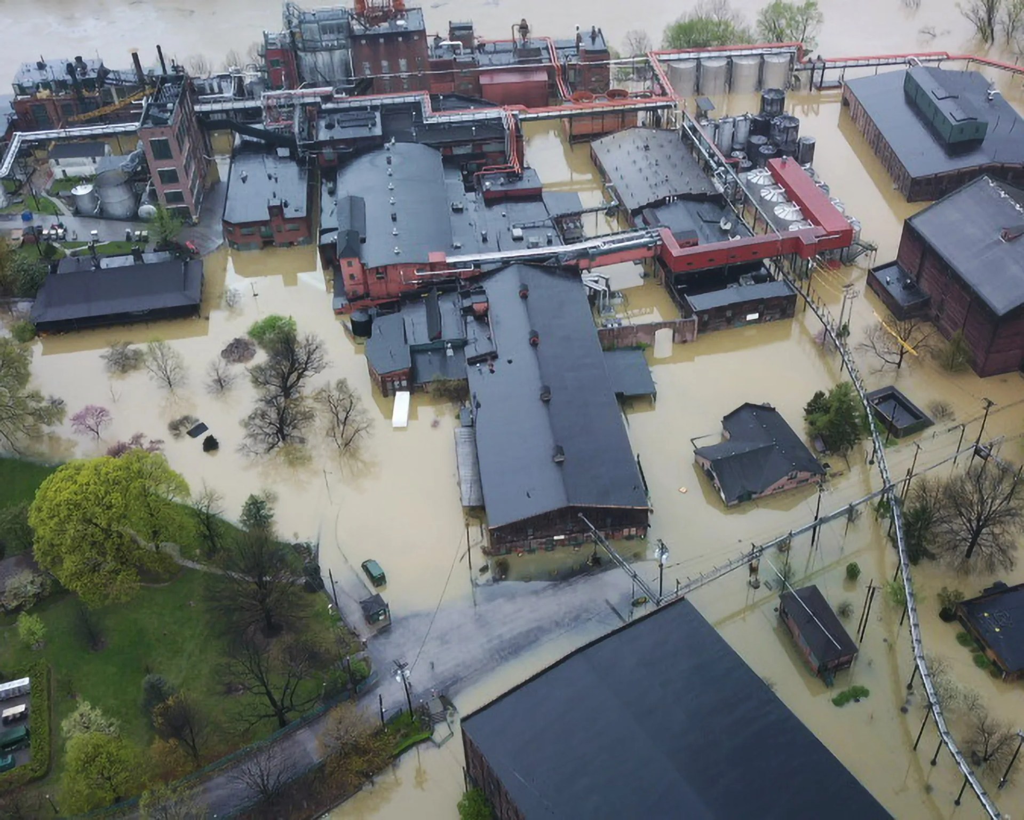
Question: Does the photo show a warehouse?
Yes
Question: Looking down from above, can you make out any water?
Yes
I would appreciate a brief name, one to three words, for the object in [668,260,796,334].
building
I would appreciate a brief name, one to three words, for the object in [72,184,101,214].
storage tank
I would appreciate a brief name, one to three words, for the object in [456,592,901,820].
warehouse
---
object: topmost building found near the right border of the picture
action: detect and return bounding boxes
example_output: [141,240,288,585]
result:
[841,62,1024,202]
